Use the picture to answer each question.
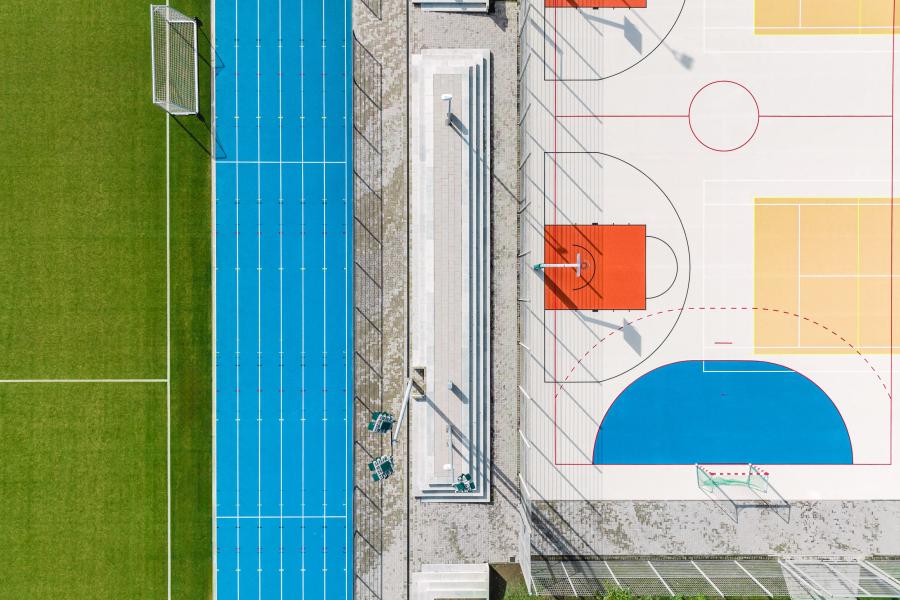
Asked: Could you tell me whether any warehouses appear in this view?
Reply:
No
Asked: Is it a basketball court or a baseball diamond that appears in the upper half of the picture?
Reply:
basketball court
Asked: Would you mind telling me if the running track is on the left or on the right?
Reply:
left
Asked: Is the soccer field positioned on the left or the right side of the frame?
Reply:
left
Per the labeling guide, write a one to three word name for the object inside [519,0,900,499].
sports court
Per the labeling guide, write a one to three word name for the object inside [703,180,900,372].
tennis court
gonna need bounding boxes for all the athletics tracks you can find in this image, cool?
[211,0,352,600]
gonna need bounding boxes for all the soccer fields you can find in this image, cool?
[0,0,213,600]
